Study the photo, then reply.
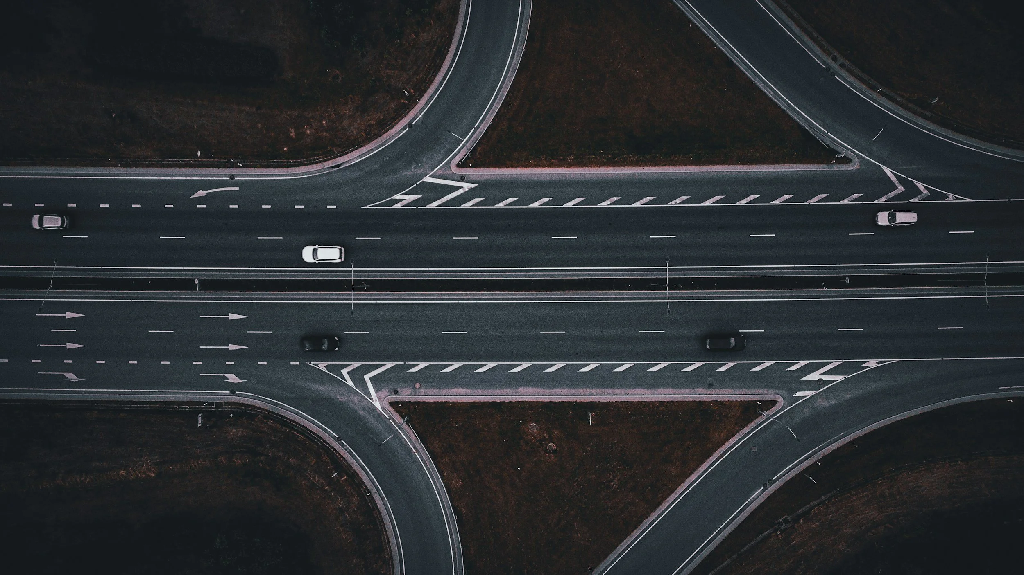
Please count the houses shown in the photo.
zero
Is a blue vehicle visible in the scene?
No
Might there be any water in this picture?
No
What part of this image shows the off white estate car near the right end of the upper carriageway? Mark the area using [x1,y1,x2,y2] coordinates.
[874,208,918,227]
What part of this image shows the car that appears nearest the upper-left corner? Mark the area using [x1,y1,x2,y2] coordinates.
[32,212,72,231]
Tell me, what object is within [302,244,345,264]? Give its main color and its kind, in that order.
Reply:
white car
